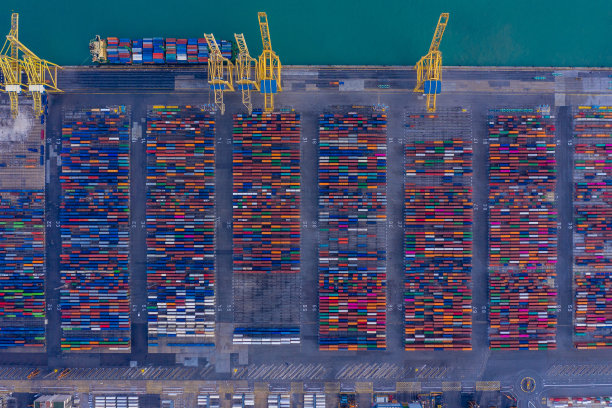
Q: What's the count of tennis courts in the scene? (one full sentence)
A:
No tennis courts are visible.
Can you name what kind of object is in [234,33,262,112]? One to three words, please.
container crane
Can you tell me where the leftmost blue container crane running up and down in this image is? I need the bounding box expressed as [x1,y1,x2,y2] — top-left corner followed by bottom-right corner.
[257,15,285,111]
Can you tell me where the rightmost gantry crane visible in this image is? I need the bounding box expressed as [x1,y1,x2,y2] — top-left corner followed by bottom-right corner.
[411,15,448,111]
